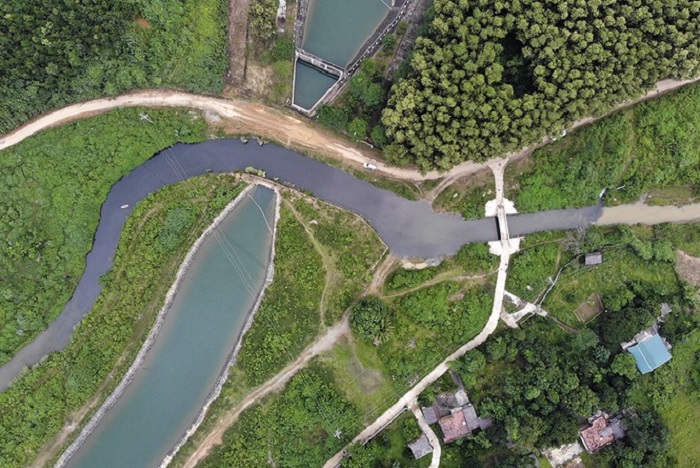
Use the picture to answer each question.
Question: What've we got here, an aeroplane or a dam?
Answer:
dam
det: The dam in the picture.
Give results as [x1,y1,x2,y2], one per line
[292,47,346,113]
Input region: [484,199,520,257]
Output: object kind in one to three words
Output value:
bridge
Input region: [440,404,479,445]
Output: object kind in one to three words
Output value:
house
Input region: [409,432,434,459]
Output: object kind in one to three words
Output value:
shed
